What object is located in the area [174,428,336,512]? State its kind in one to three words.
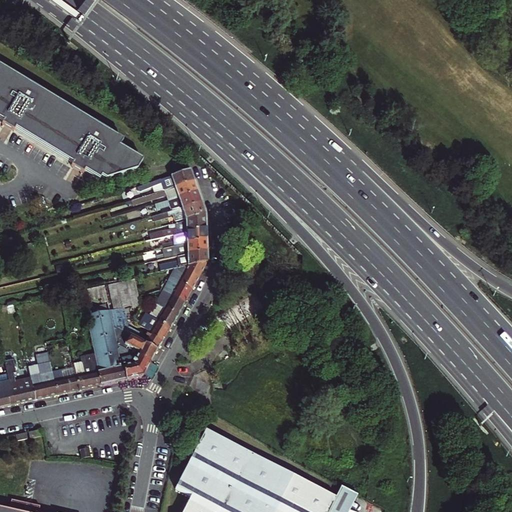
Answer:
building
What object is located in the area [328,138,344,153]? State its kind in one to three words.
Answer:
vehicle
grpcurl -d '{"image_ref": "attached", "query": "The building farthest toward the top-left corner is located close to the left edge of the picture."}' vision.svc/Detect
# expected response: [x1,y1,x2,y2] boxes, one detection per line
[0,62,144,179]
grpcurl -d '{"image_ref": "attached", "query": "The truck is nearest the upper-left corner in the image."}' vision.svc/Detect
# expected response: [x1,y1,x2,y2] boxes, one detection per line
[52,0,86,24]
